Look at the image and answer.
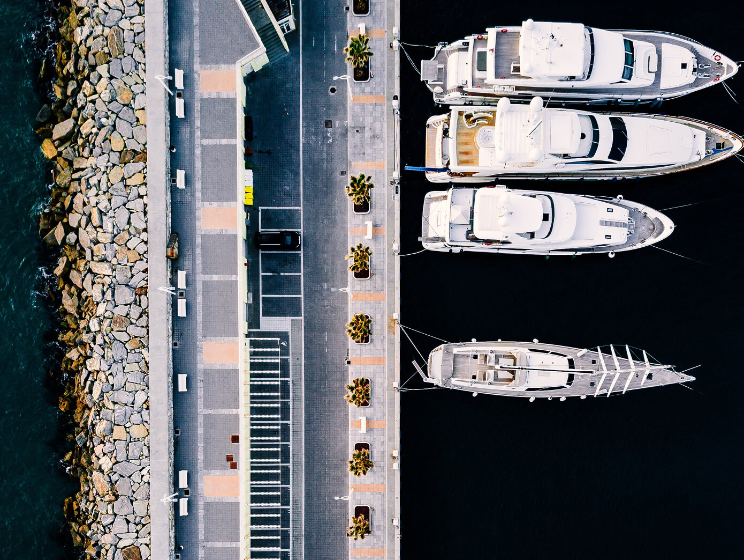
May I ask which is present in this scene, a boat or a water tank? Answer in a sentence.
The image shows a boat.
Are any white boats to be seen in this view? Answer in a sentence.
Yes, a white boat is visible in the scene.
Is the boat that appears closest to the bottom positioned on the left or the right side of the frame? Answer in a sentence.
The boat that appears closest to the bottom is on the right side of the image.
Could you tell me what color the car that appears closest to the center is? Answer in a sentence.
The car that appears closest to the center looks black in the image.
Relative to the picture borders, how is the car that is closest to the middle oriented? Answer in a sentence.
The car that is closest to the middle is oriented horizontally.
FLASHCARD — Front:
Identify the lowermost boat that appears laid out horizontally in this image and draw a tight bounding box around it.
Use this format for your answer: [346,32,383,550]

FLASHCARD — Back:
[427,342,696,397]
